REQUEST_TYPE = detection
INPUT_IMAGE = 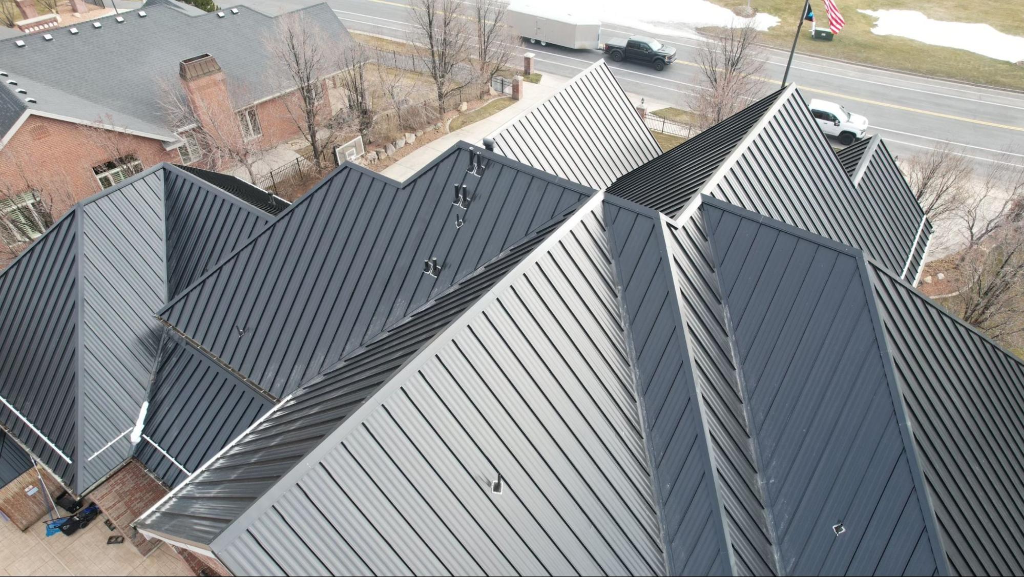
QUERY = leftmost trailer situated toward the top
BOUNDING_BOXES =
[511,4,605,51]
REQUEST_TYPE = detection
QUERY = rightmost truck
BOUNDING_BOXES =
[809,98,872,146]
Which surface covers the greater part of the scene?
buildings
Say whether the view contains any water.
No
